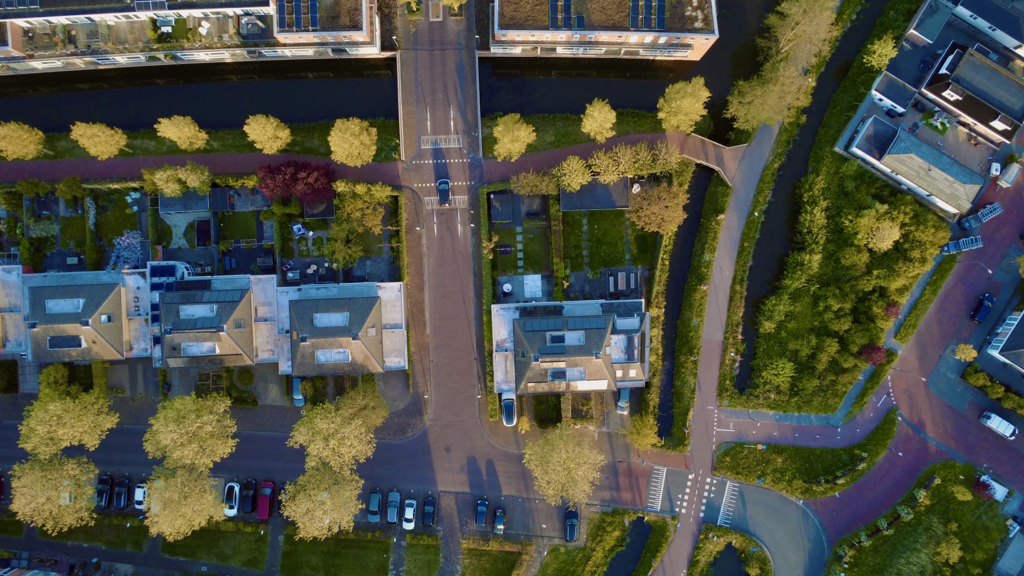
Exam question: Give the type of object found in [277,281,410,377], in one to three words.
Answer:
house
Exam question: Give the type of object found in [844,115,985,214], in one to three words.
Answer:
house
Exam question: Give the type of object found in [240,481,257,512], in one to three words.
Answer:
car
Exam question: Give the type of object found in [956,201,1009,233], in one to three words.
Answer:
truck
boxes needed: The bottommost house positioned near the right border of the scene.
[984,296,1024,378]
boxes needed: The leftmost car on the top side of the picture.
[436,177,451,208]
